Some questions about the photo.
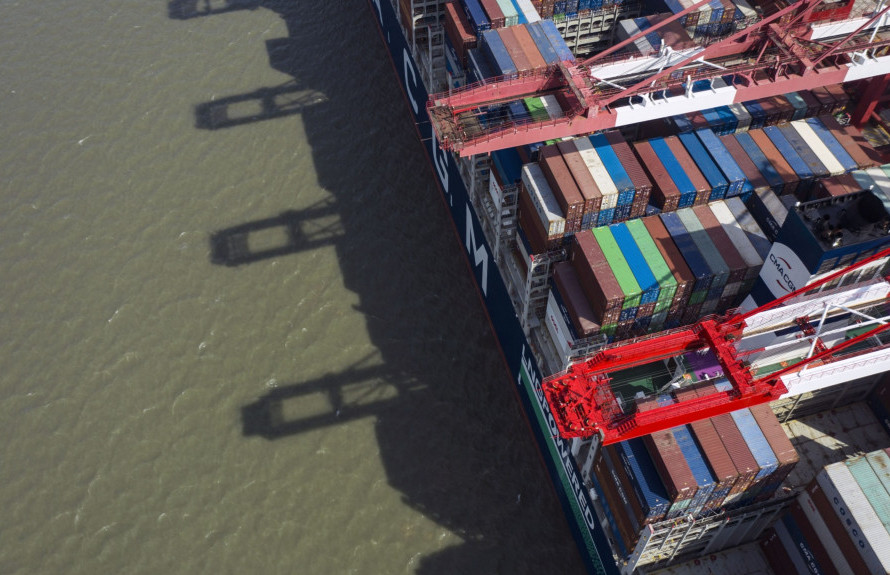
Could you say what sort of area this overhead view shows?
port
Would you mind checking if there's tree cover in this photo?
No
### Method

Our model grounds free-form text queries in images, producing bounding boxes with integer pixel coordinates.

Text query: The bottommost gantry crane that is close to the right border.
[541,254,890,452]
